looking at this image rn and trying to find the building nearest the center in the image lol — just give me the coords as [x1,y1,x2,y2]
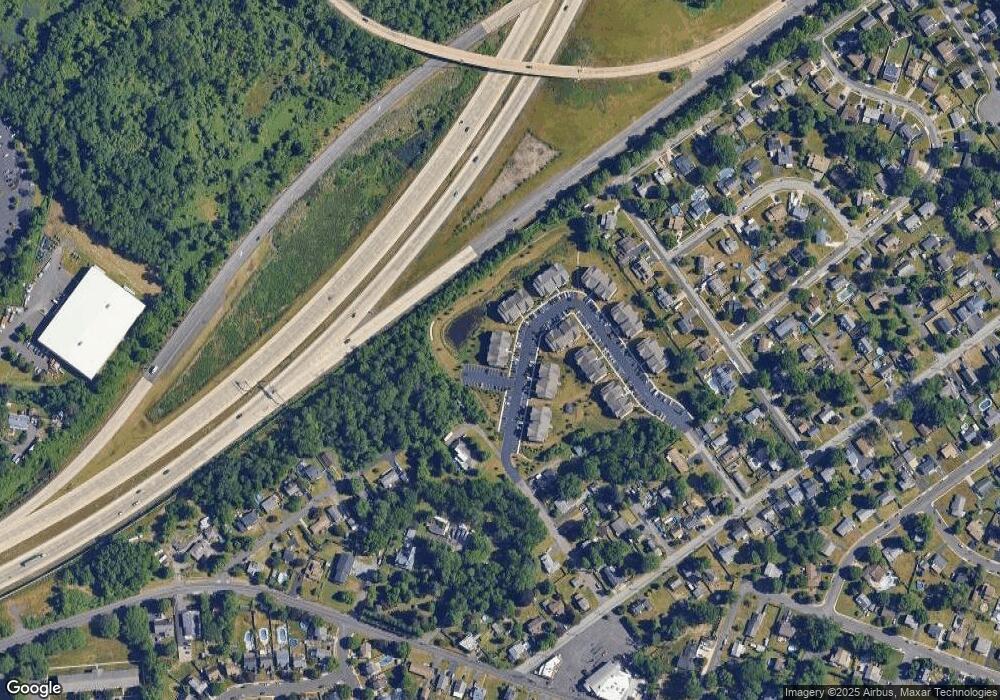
[487,332,513,366]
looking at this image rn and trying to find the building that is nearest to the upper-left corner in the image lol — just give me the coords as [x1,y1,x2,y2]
[37,266,146,380]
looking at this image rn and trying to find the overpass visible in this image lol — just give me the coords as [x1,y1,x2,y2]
[329,0,794,78]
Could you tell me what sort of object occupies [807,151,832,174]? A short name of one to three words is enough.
house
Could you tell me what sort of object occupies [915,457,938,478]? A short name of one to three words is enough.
house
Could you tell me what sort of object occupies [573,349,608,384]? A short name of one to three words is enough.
building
